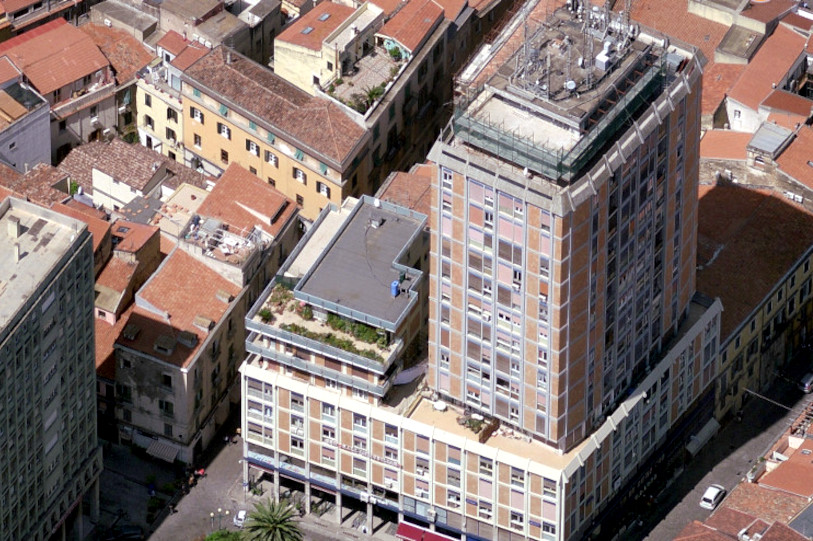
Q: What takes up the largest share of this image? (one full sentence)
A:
The largest share of the image is taken up by buildings.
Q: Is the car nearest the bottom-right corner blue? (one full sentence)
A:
No, from above the car nearest the bottom-right corner looks white.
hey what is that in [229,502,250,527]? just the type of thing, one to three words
car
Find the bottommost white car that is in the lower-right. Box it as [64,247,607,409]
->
[697,480,729,509]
